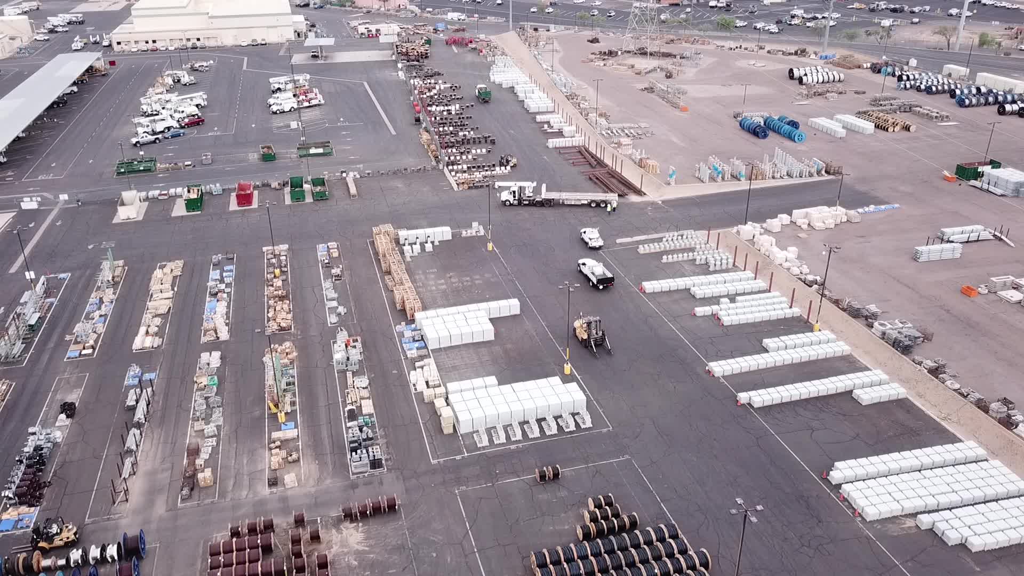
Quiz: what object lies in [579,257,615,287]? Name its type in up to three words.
truck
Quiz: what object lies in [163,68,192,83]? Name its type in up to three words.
vehicle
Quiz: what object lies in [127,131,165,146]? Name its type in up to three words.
vehicle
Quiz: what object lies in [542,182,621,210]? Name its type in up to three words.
trailer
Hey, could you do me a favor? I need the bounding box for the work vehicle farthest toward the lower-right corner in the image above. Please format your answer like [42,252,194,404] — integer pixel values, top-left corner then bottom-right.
[572,312,613,357]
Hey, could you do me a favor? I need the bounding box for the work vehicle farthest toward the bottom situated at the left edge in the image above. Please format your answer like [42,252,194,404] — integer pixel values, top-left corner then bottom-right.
[12,513,82,553]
